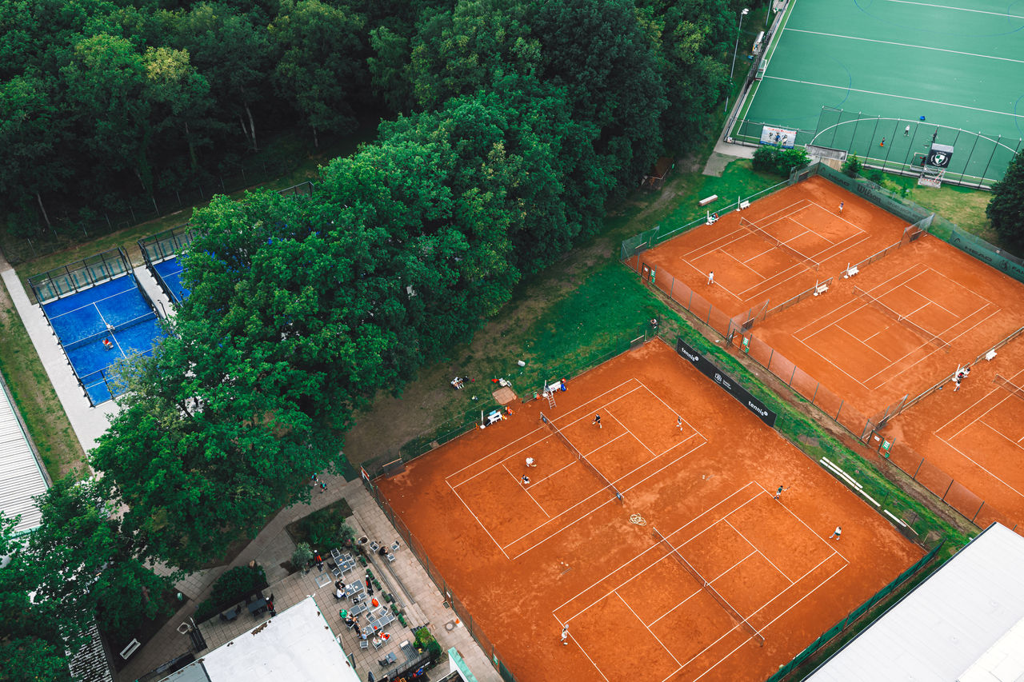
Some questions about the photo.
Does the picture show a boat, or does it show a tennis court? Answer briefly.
tennis court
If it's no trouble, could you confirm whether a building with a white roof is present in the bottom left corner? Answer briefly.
Yes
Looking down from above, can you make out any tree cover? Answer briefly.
Yes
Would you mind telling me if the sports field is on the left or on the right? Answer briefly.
right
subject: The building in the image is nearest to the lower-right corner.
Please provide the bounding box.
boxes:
[801,522,1024,682]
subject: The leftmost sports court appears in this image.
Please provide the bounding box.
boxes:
[29,246,179,408]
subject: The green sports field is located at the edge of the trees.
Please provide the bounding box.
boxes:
[728,0,1024,188]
